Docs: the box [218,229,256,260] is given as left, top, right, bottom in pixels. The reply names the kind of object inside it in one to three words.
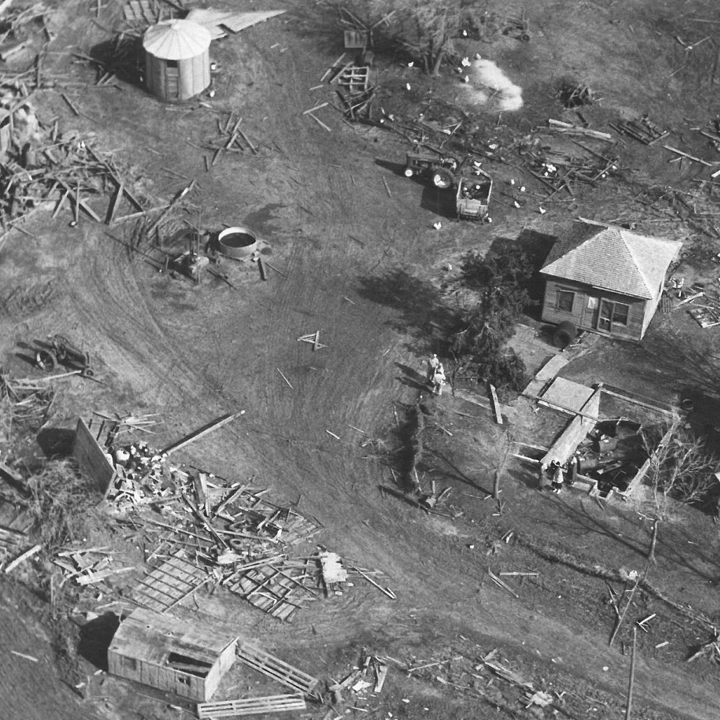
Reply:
water tank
